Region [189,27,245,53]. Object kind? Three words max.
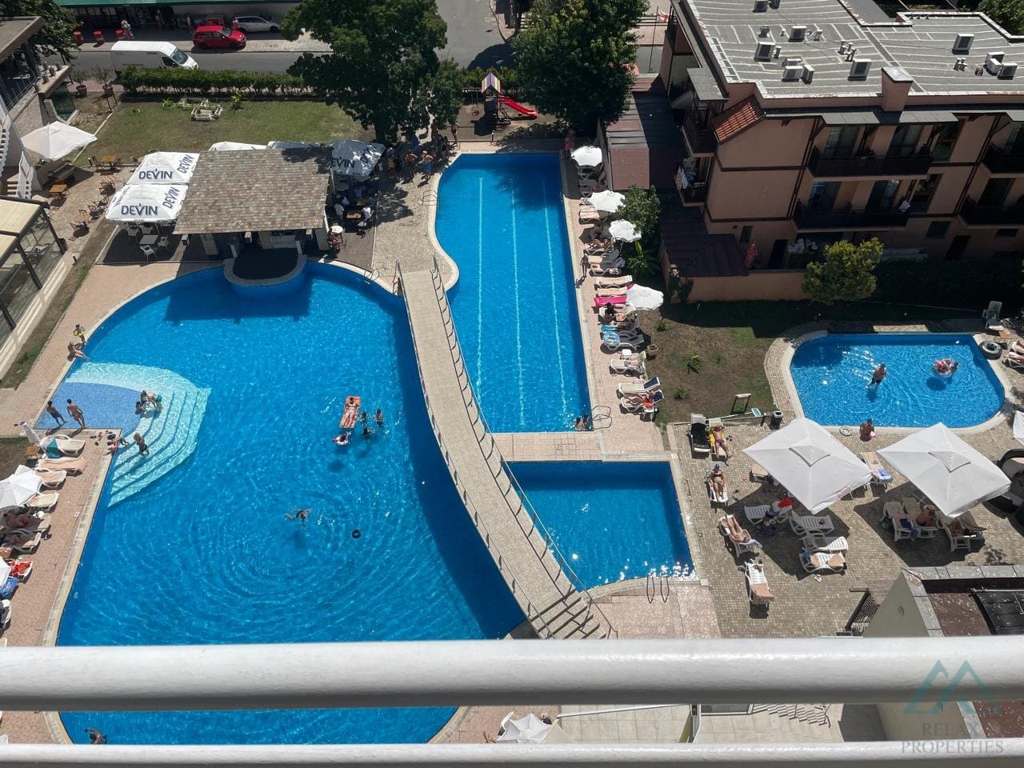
car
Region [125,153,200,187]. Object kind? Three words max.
umbrella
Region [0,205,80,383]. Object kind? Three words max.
building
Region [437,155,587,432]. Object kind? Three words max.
swimming pool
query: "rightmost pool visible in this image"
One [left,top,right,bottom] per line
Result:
[791,335,1004,426]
